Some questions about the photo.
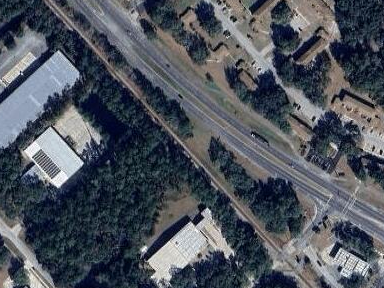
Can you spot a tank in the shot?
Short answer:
No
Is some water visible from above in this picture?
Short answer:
No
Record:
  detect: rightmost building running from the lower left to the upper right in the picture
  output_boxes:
[298,38,331,68]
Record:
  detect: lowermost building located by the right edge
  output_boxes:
[332,248,370,280]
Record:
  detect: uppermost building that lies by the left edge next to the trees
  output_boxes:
[0,50,81,146]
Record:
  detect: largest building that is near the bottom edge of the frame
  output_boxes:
[149,222,212,283]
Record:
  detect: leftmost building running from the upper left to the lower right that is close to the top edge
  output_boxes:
[181,7,212,42]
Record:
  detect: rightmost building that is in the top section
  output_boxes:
[335,90,377,121]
